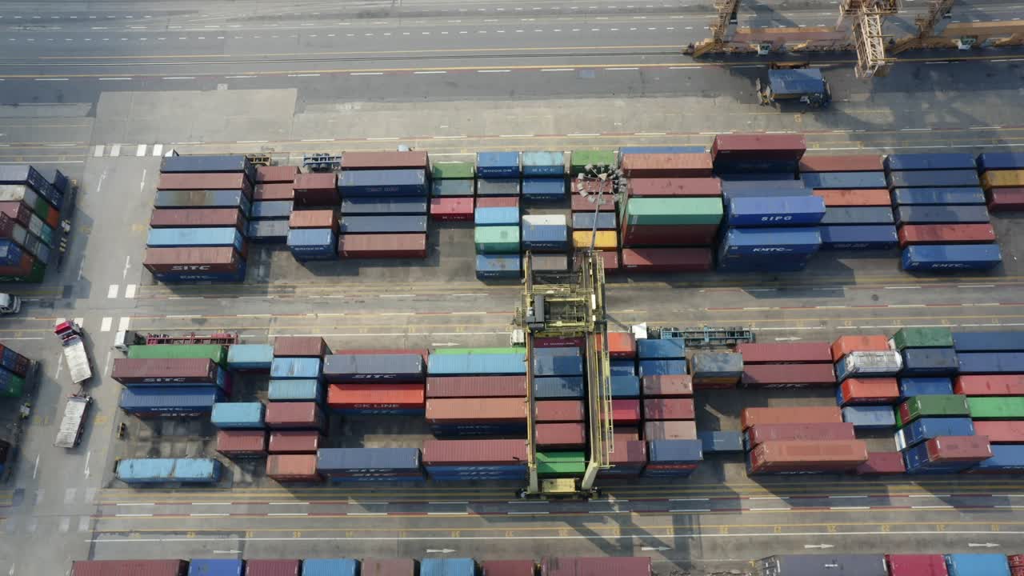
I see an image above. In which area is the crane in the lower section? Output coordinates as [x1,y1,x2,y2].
[508,248,620,497]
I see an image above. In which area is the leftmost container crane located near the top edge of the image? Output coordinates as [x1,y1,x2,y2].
[690,0,904,98]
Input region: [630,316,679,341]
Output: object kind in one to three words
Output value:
truck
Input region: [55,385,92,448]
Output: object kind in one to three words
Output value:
trailer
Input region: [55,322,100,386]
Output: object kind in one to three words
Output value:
truck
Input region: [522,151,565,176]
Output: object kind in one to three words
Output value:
shipping container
